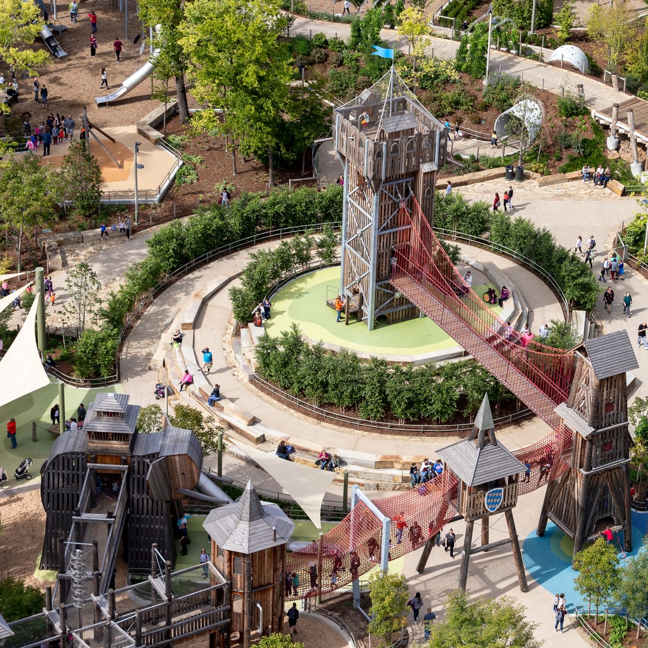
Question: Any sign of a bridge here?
Yes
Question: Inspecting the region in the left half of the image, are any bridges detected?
No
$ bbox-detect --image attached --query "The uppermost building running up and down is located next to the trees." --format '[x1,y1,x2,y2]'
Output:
[316,38,445,330]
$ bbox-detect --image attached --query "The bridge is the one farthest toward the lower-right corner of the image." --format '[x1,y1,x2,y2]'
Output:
[387,202,572,460]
